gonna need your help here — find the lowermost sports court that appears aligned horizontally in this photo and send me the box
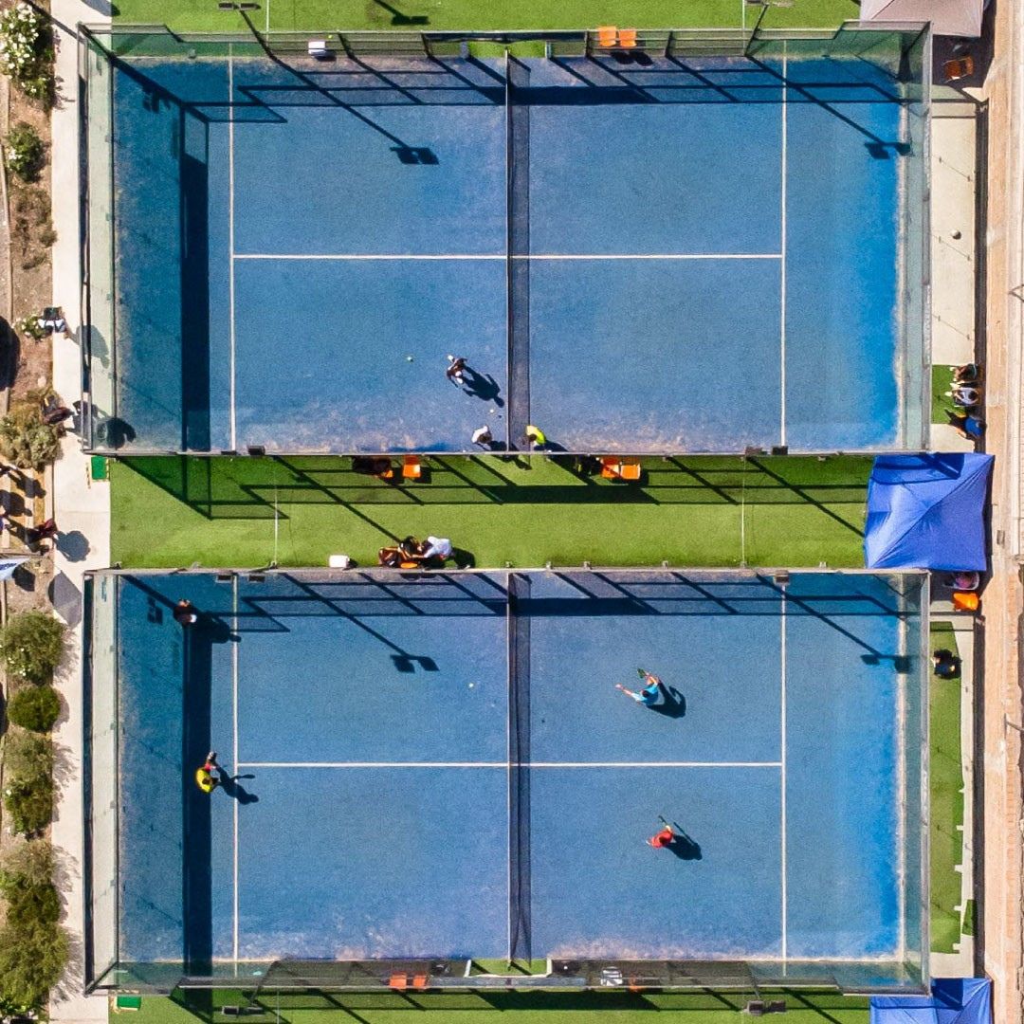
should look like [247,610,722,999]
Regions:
[115,567,905,962]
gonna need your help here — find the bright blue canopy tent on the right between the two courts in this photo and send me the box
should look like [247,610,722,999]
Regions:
[856,454,994,571]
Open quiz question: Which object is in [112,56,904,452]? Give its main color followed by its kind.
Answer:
blue sports court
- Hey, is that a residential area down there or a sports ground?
sports ground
